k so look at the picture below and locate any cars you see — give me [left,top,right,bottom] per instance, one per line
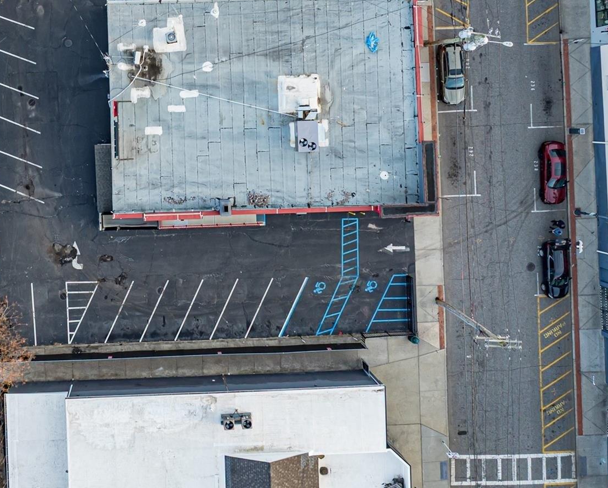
[535,141,570,204]
[537,241,573,305]
[436,43,468,105]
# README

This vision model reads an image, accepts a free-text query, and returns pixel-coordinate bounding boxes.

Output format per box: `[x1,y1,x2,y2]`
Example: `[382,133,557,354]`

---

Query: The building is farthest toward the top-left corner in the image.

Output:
[94,0,438,230]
